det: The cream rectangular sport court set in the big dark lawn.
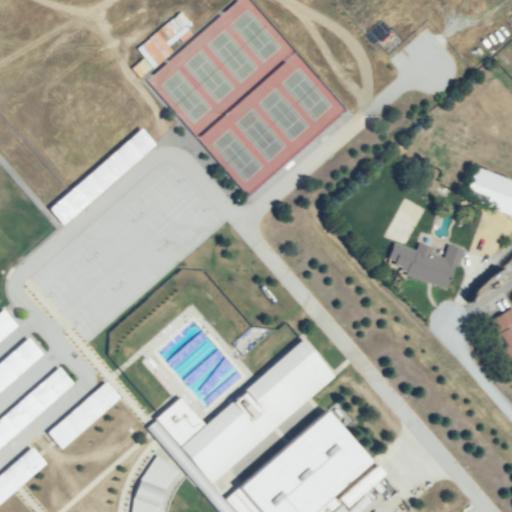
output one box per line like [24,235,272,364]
[384,198,425,244]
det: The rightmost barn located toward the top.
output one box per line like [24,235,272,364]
[471,164,512,211]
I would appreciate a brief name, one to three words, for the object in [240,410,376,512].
building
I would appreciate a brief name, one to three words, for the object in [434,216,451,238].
swimming pool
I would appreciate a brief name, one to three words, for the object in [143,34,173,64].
shed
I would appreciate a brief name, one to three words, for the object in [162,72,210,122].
tennis court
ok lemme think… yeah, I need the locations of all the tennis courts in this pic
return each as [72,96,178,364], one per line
[237,109,285,160]
[260,89,308,140]
[186,51,234,102]
[282,69,330,120]
[232,10,280,62]
[162,72,210,122]
[209,30,258,82]
[214,130,262,182]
